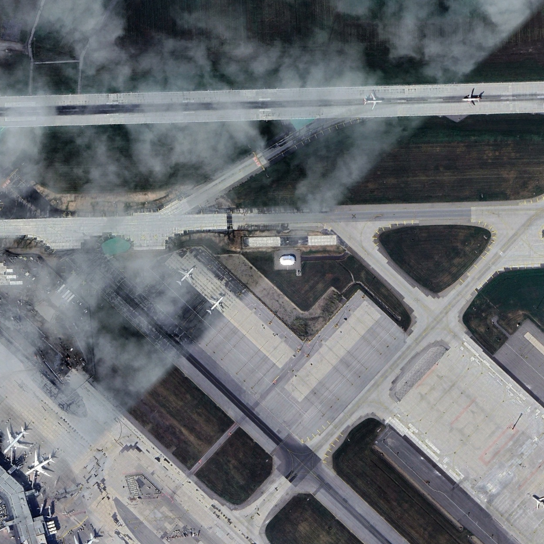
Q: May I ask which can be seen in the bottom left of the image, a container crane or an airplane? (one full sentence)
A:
It is an airplane that can be seen in the bottom left of the image.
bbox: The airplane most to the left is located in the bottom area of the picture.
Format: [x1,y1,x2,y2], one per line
[4,424,30,454]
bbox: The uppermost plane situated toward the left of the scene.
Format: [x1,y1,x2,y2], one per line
[176,267,195,285]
